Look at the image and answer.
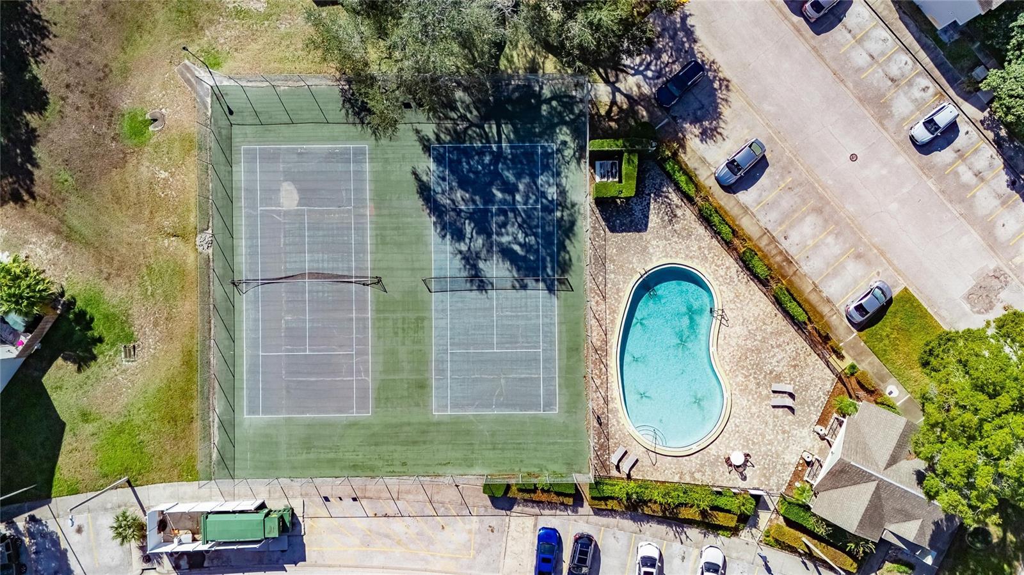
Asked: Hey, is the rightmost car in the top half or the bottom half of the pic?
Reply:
top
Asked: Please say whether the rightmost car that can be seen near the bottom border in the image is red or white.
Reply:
white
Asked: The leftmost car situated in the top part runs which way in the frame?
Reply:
diagonally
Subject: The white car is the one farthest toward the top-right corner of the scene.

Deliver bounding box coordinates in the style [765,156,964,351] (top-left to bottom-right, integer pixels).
[913,98,967,144]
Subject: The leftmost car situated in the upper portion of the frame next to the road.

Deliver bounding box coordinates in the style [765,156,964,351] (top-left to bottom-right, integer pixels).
[656,54,711,105]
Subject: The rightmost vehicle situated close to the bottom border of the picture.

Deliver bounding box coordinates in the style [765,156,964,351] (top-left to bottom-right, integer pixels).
[700,546,727,575]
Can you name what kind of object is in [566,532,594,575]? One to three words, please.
car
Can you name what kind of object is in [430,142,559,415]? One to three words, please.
tennis court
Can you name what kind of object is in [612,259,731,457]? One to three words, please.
swimming pool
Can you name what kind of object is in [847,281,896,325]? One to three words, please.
car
